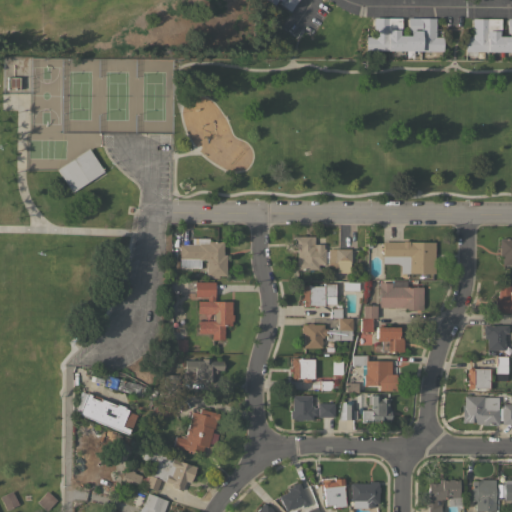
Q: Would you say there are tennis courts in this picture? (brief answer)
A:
Yes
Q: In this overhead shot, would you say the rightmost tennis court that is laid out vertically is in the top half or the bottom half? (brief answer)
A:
top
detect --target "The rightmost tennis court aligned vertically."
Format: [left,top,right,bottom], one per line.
[144,72,166,121]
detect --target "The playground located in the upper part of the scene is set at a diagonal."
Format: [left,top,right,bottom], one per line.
[184,99,254,171]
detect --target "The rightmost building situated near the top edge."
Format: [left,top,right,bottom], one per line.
[468,18,512,52]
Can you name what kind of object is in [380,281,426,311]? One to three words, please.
house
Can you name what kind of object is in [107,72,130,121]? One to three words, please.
tennis court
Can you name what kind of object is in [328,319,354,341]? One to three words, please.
building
